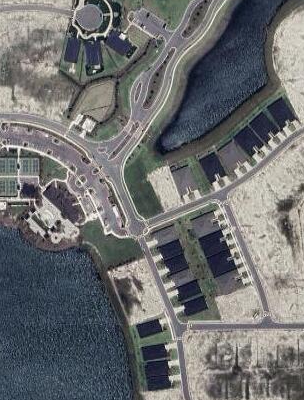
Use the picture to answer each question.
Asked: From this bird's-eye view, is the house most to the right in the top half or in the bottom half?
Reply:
top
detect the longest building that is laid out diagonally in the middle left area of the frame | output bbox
[43,180,83,220]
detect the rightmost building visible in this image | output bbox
[268,98,297,129]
